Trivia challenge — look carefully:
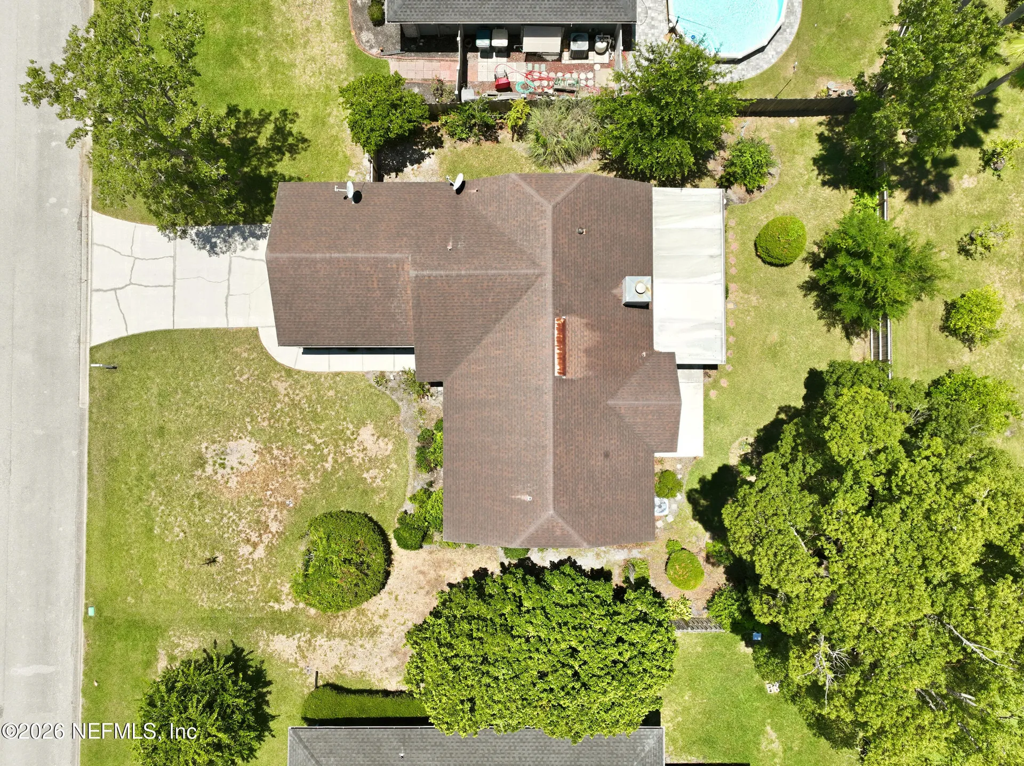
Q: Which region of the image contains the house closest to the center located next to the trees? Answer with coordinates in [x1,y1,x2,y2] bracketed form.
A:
[264,171,683,550]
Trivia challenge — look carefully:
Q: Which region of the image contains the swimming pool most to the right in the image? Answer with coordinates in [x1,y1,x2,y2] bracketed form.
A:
[663,0,786,60]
